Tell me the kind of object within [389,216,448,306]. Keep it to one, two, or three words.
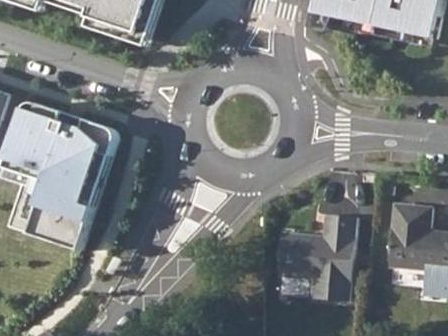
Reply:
house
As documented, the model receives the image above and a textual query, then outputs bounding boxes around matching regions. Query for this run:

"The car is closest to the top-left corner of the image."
[26,62,49,76]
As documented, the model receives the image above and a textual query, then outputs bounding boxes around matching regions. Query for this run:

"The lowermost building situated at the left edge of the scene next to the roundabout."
[0,103,118,251]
